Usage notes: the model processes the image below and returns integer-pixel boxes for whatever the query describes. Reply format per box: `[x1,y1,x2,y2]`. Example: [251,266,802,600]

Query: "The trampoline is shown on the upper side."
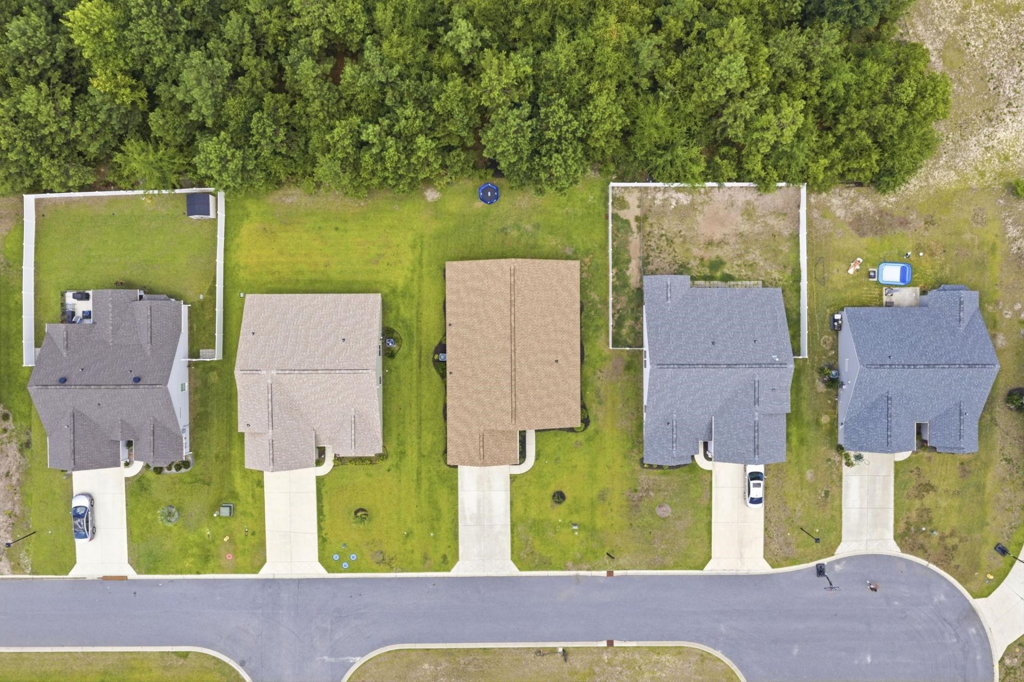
[479,181,498,204]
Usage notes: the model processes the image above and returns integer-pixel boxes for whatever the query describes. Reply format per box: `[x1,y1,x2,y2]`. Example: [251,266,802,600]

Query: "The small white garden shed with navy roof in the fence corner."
[186,192,217,217]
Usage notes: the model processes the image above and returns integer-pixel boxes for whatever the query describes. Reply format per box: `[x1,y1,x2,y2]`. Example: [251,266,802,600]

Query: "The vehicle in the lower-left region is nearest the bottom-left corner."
[68,492,96,542]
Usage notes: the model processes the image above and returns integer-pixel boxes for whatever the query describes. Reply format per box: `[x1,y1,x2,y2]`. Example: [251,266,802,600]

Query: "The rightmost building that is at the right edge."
[833,285,1000,455]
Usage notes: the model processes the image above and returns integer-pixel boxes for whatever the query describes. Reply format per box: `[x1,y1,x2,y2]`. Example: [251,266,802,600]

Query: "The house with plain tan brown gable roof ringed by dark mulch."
[446,259,581,467]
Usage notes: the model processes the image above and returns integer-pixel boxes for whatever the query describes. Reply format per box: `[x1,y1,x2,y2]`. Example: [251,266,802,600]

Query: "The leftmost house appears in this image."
[28,290,199,472]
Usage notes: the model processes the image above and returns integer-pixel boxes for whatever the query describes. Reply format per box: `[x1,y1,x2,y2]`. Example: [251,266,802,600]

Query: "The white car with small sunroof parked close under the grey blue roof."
[743,465,767,508]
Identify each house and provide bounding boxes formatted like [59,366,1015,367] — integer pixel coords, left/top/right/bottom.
[641,275,794,467]
[235,295,384,473]
[446,259,581,467]
[833,285,1000,455]
[28,290,199,472]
